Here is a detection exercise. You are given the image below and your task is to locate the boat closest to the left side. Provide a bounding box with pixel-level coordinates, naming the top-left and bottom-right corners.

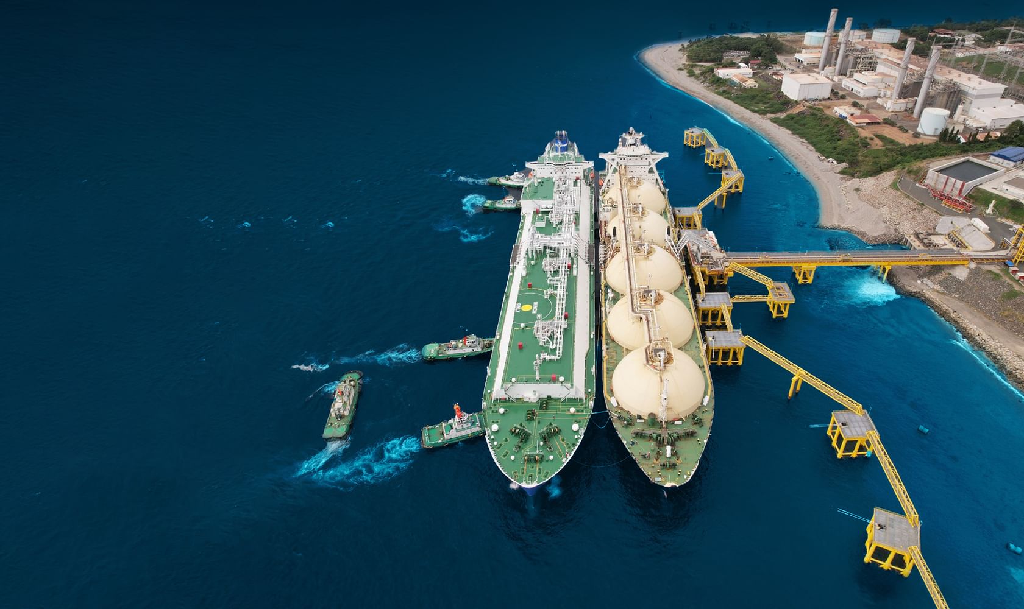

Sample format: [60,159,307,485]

[320,368,366,441]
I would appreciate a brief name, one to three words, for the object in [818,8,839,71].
chimney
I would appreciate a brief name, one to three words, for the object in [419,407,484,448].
boat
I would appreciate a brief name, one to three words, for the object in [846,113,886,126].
building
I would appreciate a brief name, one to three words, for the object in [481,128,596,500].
ship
